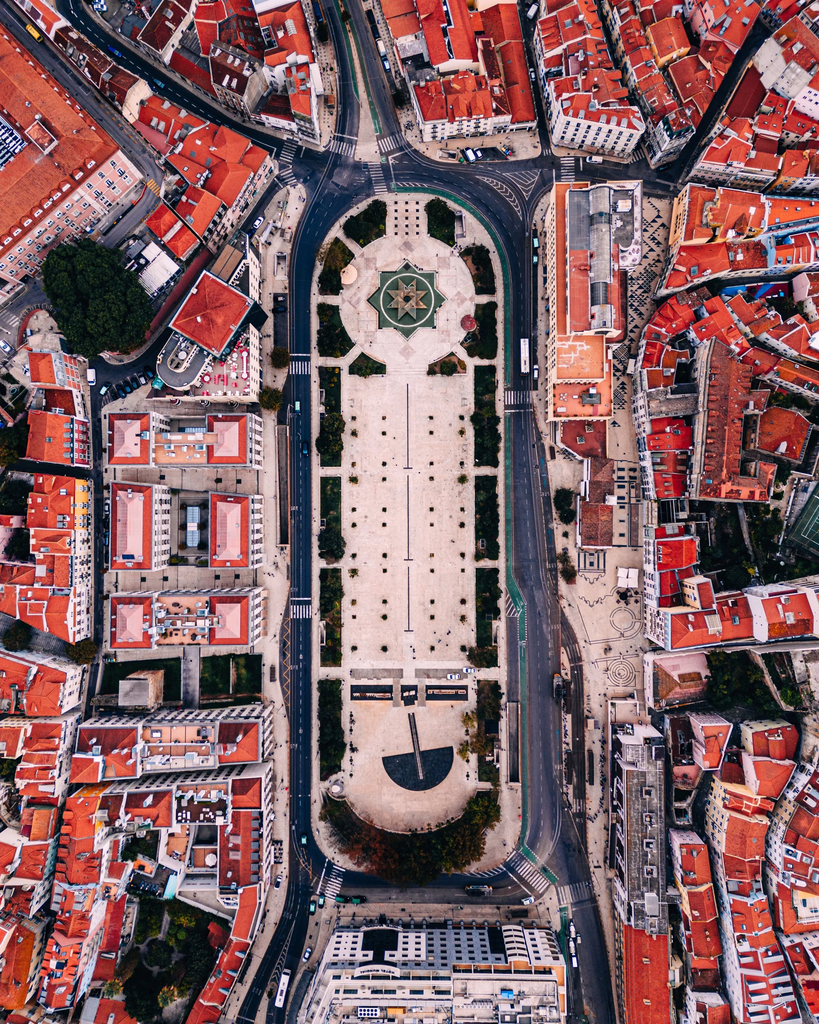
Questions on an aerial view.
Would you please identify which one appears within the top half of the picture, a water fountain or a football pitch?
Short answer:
water fountain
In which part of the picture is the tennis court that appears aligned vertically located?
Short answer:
right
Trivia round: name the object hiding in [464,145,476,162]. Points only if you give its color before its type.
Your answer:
white vehicle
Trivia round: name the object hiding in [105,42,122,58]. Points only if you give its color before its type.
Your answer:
blue vehicle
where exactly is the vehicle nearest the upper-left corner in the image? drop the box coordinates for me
[23,20,42,42]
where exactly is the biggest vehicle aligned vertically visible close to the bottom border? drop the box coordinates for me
[274,969,289,1012]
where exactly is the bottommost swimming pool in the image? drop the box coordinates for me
[163,874,177,898]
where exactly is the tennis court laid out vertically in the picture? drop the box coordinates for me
[789,481,819,553]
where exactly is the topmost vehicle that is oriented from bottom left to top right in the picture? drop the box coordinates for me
[527,2,540,18]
